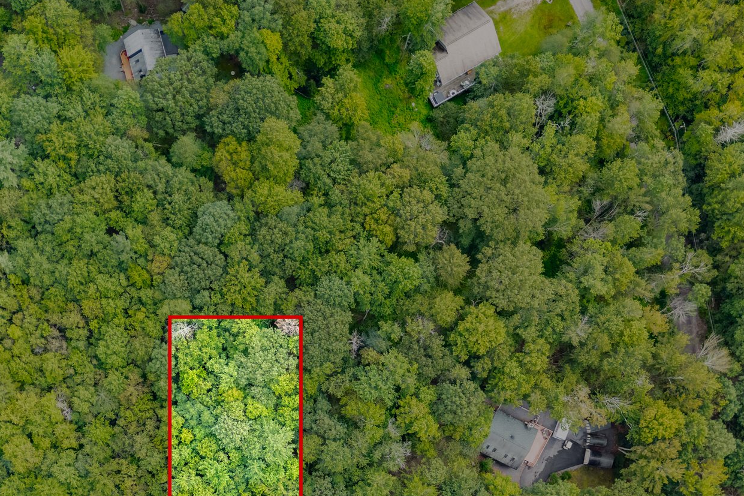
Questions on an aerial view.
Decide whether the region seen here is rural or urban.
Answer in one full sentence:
From above, the setting appears rural.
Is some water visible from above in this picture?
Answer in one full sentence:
No, the picture contains no water.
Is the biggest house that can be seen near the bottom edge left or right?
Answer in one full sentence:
It is on the right.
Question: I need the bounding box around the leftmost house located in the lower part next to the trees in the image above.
[478,406,553,488]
